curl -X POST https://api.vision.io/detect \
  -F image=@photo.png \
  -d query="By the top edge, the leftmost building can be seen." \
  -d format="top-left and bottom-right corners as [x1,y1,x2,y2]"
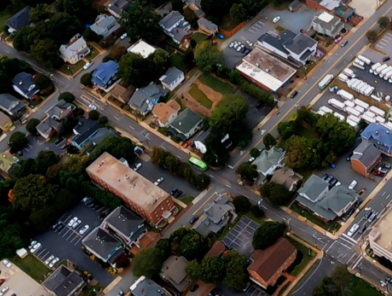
[2,7,37,34]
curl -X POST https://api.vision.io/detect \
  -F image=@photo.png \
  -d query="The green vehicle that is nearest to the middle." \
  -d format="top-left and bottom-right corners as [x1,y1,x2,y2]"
[188,155,208,172]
